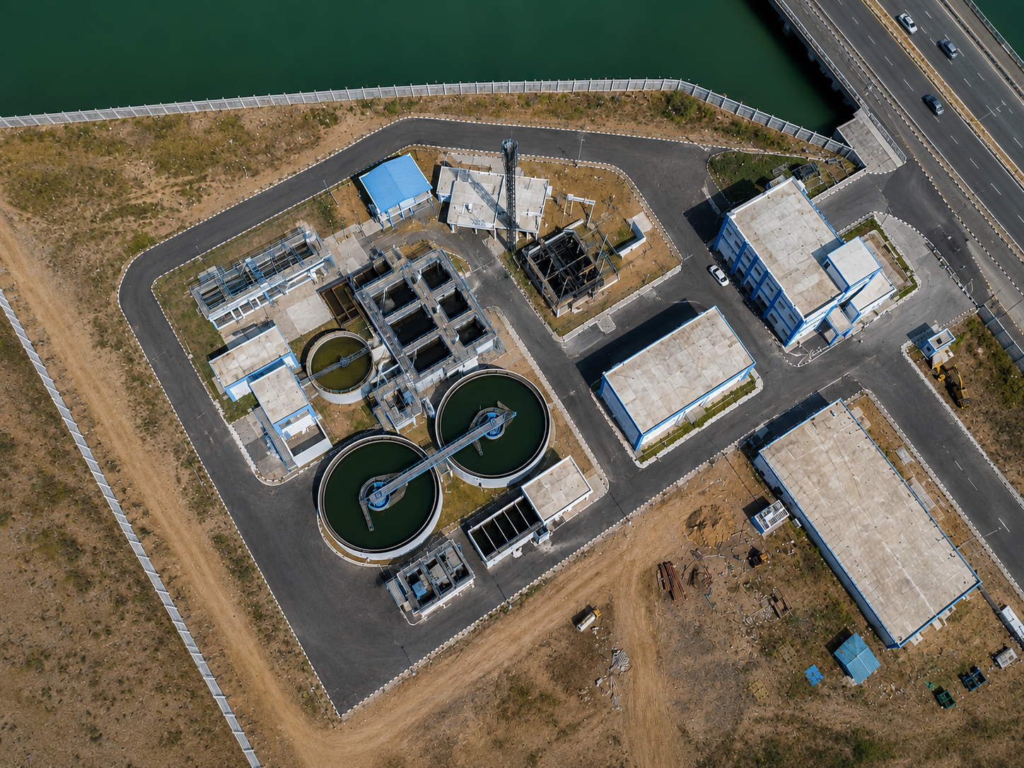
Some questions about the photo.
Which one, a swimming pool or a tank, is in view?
tank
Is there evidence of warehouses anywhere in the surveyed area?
Yes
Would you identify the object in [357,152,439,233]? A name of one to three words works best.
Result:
shed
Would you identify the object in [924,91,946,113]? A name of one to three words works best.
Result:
car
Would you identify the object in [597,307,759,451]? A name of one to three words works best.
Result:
building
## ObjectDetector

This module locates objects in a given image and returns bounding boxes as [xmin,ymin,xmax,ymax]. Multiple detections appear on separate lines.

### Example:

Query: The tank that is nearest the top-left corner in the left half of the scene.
[305,332,377,401]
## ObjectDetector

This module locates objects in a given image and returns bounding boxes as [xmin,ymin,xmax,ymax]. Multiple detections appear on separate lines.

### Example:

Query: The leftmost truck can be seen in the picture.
[573,604,604,633]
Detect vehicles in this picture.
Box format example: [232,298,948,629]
[707,261,730,286]
[945,365,980,410]
[573,604,604,633]
[899,11,919,32]
[924,91,946,113]
[747,549,772,569]
[940,35,960,57]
